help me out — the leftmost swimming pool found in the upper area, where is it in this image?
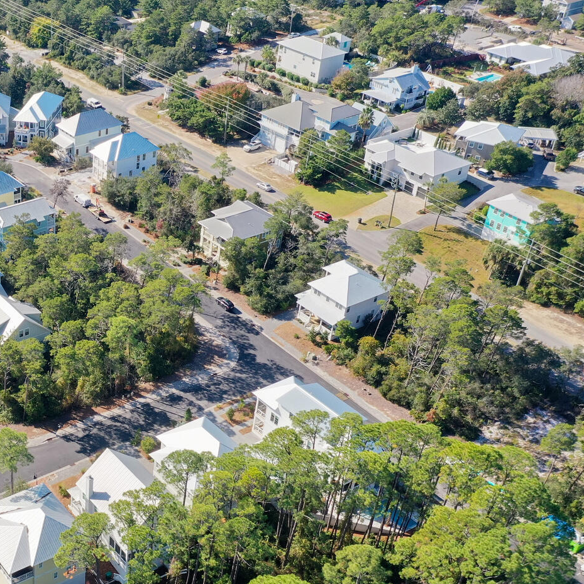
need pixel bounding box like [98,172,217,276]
[343,61,360,74]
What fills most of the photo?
trees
